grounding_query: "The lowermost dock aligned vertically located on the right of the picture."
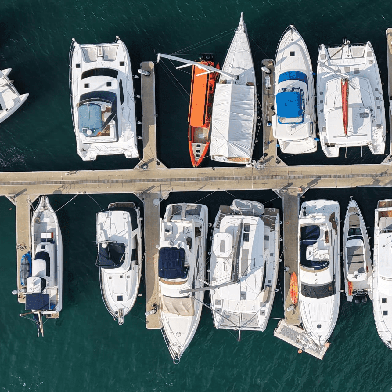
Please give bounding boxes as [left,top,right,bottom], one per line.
[271,188,309,324]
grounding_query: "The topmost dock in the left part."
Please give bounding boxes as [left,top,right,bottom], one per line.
[134,62,168,169]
